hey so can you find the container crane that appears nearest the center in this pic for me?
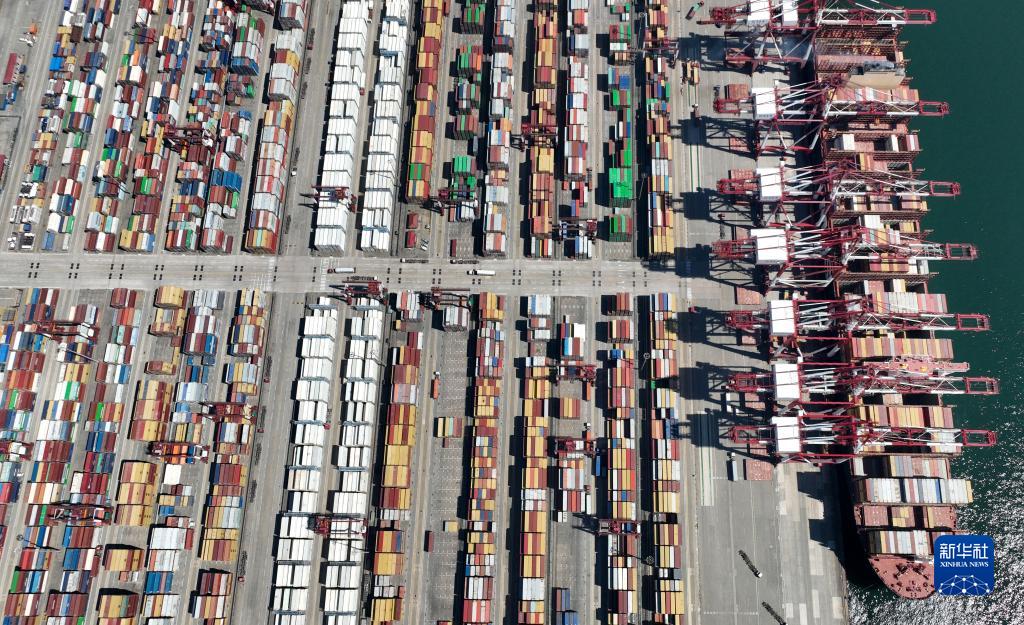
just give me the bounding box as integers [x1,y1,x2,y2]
[430,289,474,315]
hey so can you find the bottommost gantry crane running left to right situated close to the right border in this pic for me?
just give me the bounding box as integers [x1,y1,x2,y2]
[725,411,998,472]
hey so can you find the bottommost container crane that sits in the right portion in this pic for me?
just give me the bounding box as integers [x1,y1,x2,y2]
[596,518,642,540]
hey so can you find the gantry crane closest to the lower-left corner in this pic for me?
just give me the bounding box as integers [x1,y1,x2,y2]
[51,505,116,527]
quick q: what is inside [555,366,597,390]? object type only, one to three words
container crane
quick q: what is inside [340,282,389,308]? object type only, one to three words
container crane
